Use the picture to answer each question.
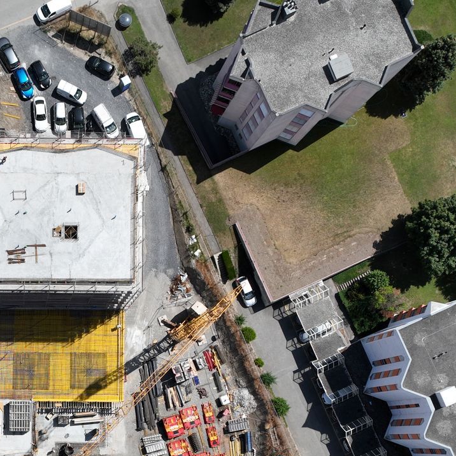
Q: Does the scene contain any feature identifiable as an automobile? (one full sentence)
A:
Yes, there's an automobile here.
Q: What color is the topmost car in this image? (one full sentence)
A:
In this view, the topmost car is white.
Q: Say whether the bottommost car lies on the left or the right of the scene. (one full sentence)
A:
The bottommost car is on the right side of the image.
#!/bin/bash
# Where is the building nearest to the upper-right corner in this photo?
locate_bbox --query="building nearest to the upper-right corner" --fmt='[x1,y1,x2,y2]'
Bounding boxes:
[207,0,424,154]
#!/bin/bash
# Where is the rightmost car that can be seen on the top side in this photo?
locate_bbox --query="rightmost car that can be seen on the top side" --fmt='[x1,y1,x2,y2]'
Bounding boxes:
[123,110,148,142]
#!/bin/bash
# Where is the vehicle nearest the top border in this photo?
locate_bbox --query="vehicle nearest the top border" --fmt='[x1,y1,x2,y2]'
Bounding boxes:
[36,0,74,24]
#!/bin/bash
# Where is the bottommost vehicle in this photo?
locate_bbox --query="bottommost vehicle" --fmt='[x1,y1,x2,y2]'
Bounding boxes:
[329,436,356,456]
